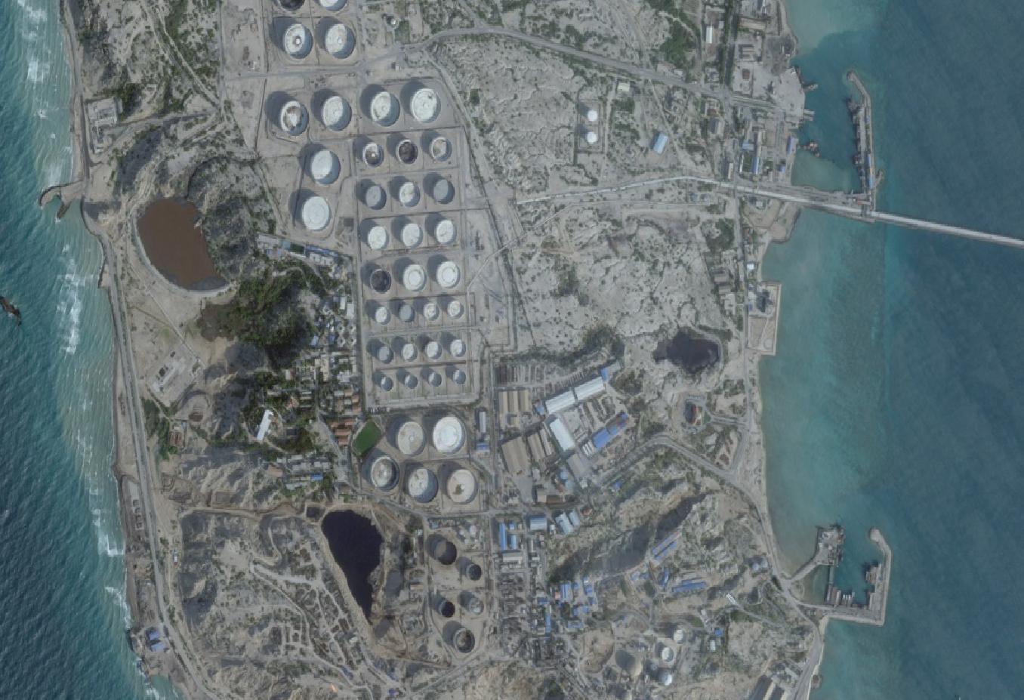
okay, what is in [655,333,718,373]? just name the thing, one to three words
pond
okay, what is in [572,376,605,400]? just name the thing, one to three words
building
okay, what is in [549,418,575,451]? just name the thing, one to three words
building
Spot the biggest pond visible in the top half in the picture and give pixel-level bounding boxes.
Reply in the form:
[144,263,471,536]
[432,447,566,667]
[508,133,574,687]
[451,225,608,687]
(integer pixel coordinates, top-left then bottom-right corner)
[139,199,223,286]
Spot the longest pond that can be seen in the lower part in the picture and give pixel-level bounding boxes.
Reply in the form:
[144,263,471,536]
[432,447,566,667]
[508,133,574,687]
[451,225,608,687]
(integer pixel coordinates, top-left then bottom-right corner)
[324,511,383,620]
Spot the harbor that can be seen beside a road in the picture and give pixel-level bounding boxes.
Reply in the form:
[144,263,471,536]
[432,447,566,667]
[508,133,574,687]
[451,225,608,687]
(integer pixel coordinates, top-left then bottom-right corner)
[788,525,891,625]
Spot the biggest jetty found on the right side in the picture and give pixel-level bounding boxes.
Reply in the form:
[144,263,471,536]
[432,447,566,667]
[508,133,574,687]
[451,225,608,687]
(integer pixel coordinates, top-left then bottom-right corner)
[791,71,883,223]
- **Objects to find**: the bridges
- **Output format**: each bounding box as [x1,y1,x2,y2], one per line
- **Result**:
[868,211,1024,246]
